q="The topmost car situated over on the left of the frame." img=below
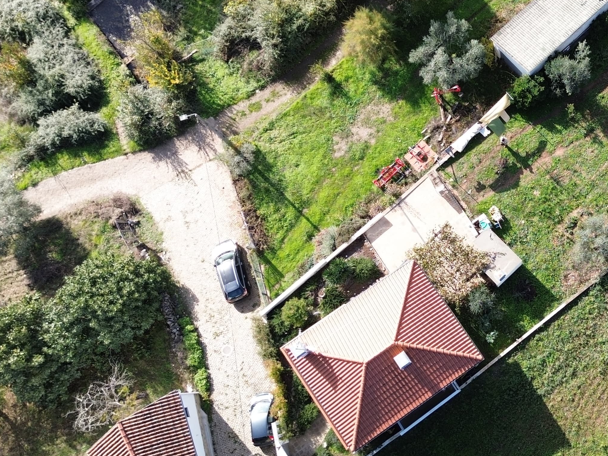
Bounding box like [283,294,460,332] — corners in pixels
[211,238,251,306]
